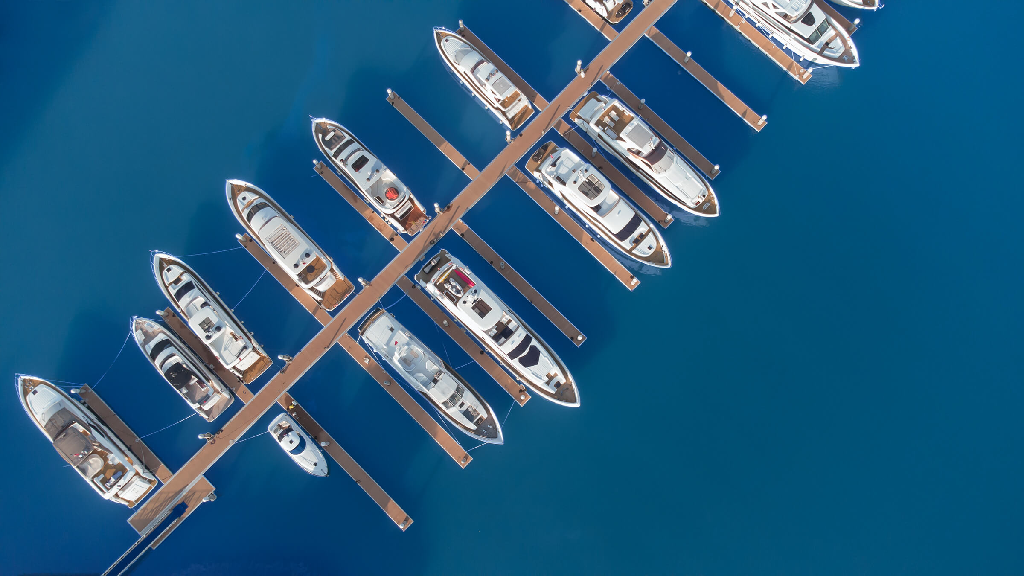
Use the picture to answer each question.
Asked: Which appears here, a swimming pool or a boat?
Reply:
boat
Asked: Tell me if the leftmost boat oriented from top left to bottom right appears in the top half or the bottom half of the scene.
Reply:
bottom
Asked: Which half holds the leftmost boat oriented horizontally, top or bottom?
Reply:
top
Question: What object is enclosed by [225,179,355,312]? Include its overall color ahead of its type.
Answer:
white boat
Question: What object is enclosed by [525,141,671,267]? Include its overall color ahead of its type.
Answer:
white boat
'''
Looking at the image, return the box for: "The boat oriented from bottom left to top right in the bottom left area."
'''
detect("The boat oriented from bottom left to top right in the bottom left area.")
[107,472,123,487]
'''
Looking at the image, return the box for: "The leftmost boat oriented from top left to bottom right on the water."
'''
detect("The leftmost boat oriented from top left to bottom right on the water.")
[15,374,159,508]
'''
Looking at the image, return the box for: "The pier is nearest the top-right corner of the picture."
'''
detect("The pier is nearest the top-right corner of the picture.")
[814,0,858,38]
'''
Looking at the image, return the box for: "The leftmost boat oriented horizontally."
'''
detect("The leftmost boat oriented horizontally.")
[581,0,633,25]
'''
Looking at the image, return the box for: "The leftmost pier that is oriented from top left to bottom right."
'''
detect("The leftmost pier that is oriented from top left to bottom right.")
[77,382,173,485]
